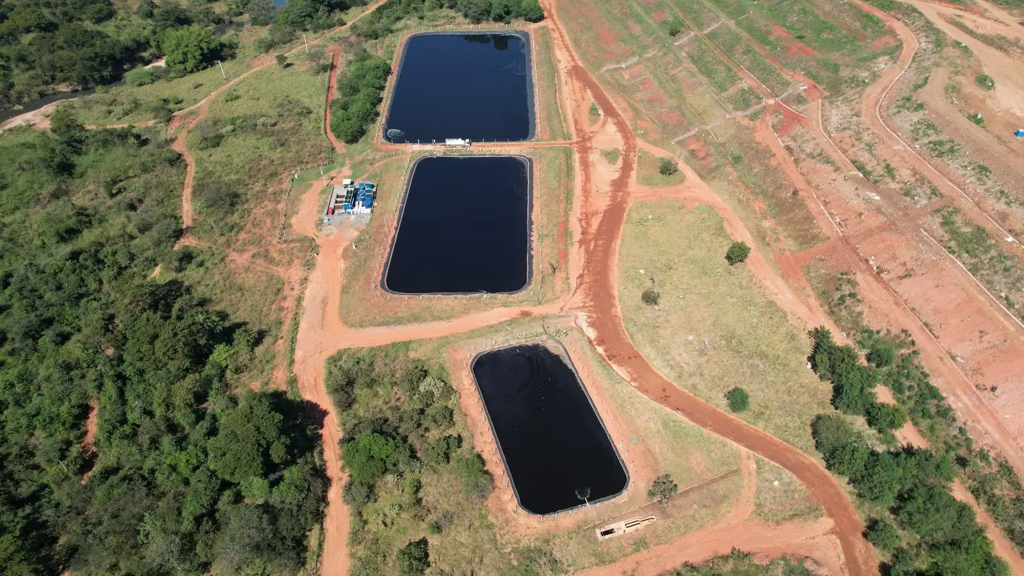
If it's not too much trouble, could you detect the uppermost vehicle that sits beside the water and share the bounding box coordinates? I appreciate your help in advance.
[445,135,472,147]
